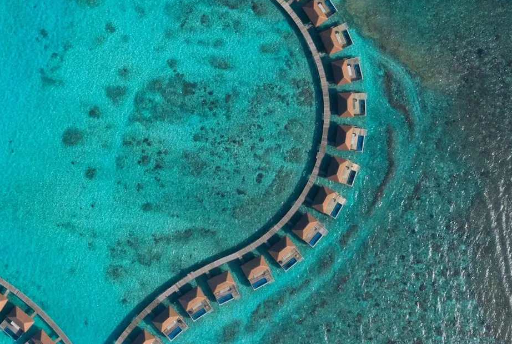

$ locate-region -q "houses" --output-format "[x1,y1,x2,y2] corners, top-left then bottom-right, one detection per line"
[324,155,361,187]
[152,305,189,343]
[335,91,368,117]
[329,55,363,86]
[267,235,304,272]
[290,213,328,249]
[334,125,368,152]
[178,285,214,322]
[300,0,338,27]
[0,305,34,343]
[310,186,347,219]
[240,255,274,292]
[129,328,163,344]
[206,270,240,307]
[318,22,355,55]
[24,328,56,344]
